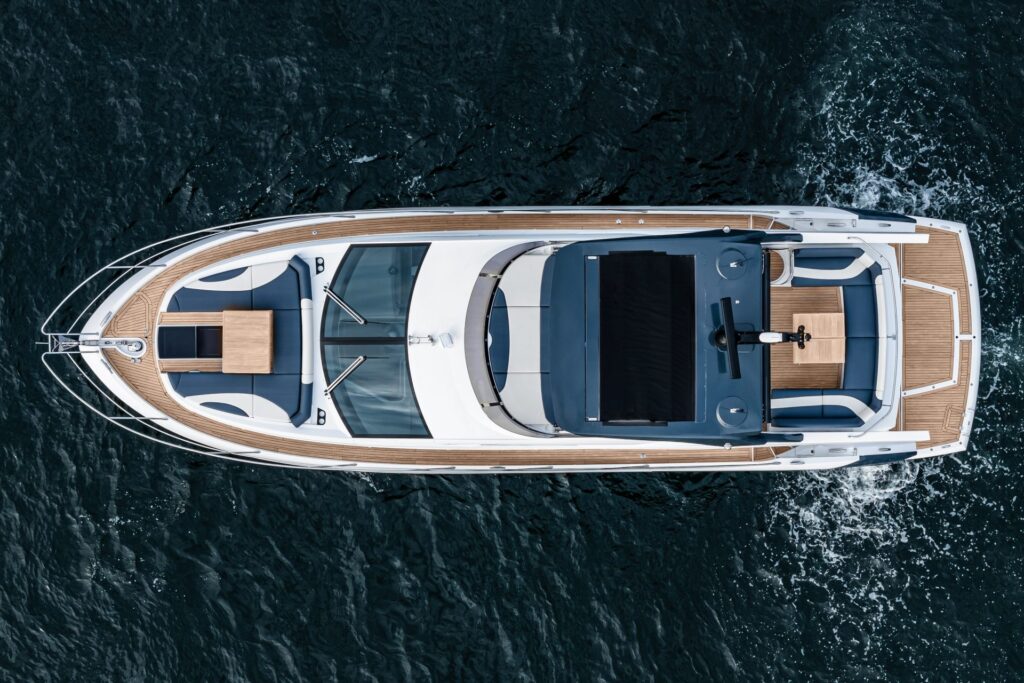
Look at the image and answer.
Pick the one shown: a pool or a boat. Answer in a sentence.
I can see a boat in this picture.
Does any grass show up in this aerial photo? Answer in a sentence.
No, there is no grass in the image.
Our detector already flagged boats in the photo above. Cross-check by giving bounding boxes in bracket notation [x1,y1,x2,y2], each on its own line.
[36,205,980,476]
